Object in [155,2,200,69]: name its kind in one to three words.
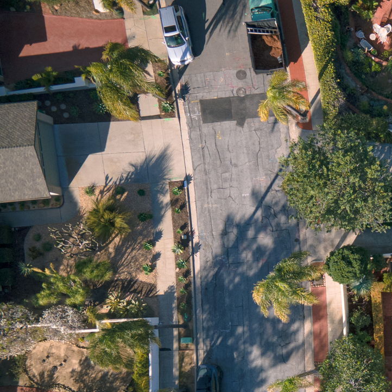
car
